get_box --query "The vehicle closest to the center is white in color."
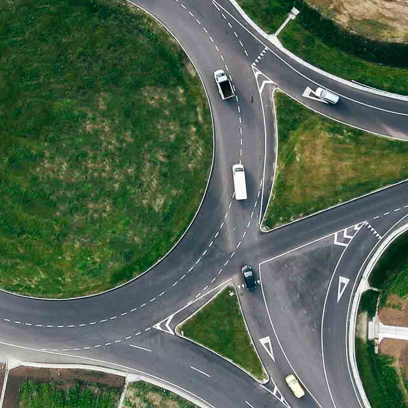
[231,164,246,200]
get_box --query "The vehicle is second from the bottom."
[241,264,256,290]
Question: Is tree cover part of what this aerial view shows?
No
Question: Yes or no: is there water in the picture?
No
